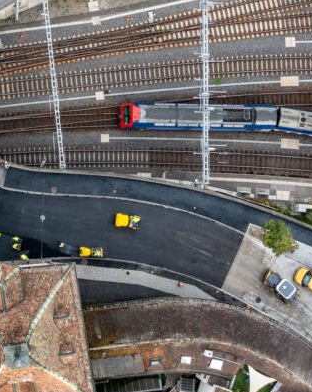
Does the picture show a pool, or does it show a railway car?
railway car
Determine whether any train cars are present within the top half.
Yes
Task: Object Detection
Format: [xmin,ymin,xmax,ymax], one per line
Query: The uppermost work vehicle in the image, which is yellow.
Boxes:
[113,214,141,228]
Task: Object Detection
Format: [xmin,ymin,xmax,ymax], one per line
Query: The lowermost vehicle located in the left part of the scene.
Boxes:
[78,245,103,258]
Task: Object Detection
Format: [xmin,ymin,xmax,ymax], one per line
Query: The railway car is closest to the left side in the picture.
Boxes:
[113,104,273,135]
